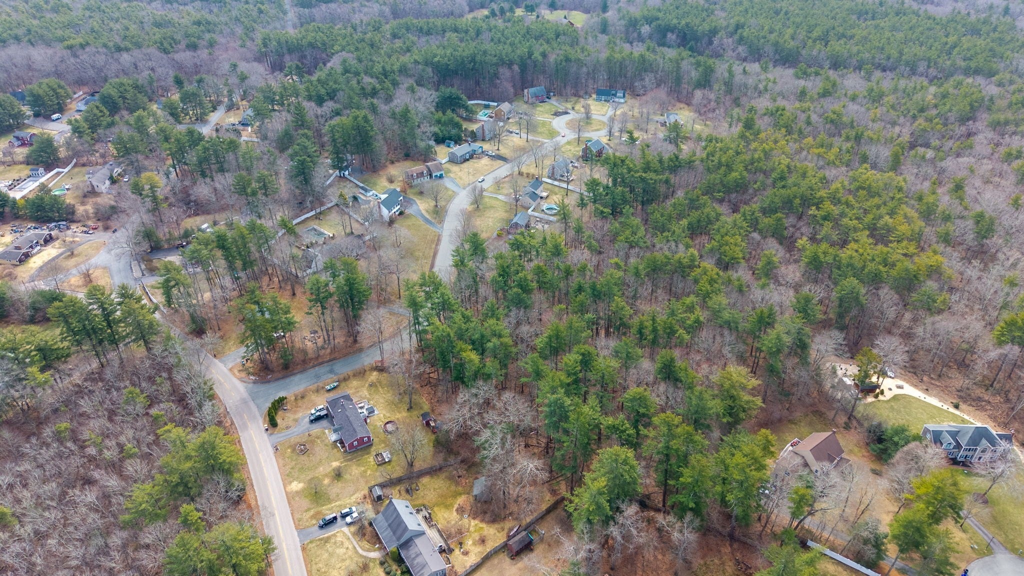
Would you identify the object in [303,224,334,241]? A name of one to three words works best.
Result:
swimming pool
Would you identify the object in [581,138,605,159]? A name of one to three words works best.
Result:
house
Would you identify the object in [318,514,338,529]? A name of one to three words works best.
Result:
car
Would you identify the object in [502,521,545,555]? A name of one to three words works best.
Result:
shed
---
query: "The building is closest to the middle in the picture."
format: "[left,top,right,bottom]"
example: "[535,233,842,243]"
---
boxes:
[505,210,525,233]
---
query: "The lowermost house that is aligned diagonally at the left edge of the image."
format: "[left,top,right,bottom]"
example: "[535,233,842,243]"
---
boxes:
[0,221,60,264]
